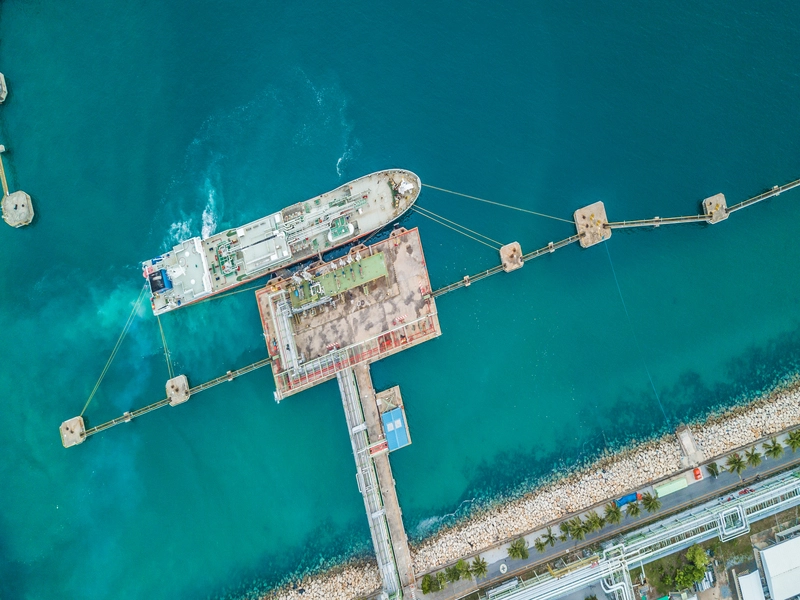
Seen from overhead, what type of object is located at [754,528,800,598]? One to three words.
building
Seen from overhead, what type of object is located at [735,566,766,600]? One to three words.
shed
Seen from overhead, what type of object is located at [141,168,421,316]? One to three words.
ship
